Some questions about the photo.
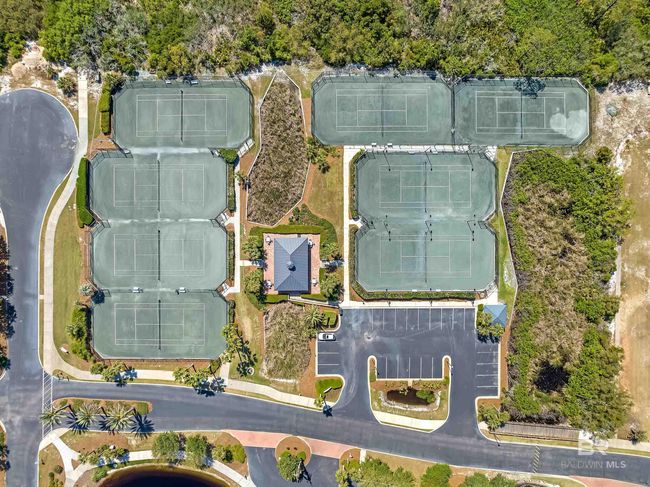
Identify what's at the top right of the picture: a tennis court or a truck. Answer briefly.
tennis court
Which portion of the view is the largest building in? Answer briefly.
center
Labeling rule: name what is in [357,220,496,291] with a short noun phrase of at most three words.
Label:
tennis court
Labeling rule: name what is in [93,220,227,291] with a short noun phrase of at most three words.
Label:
tennis court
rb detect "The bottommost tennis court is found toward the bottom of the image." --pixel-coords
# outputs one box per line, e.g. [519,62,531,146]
[93,291,228,359]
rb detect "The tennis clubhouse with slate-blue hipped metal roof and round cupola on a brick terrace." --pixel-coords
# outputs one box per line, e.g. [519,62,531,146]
[274,237,308,291]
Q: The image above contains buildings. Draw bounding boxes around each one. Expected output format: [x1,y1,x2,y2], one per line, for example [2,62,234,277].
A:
[274,237,308,291]
[482,305,507,327]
